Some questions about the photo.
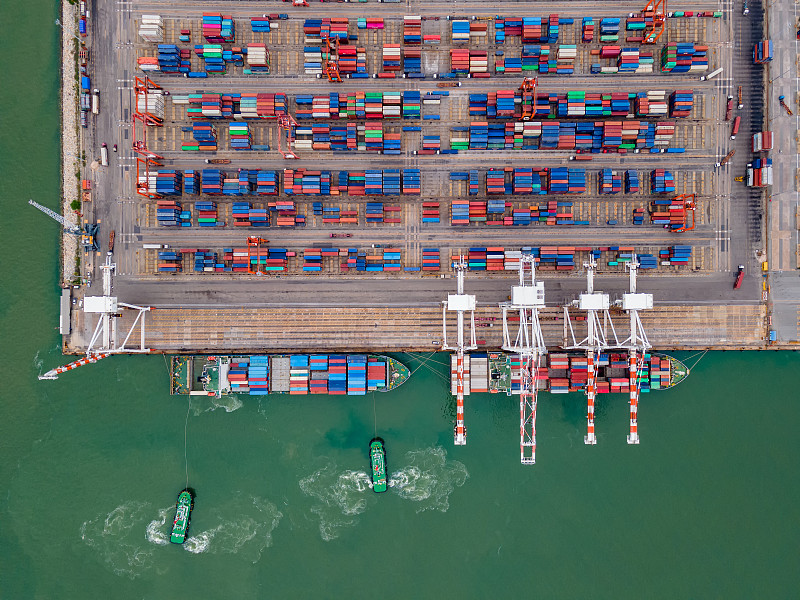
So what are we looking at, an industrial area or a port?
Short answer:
port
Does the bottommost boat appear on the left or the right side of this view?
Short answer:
left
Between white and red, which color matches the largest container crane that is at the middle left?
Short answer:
white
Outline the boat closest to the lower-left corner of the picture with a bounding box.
[170,488,194,545]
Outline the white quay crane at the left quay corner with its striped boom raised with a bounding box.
[49,251,147,380]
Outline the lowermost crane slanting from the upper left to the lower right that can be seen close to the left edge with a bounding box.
[28,200,102,256]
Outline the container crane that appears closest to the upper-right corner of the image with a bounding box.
[637,0,665,45]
